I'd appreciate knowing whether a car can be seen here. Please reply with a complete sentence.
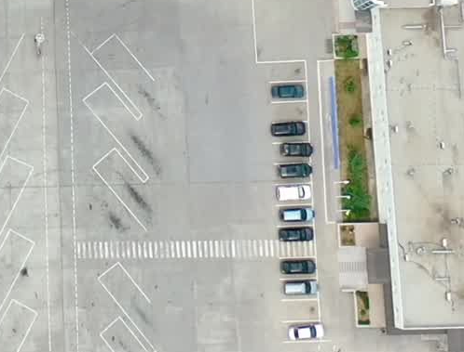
Yes, there's a car down there.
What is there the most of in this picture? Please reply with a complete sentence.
Most of the picture is covered by paved ground.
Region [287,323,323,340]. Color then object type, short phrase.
white car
